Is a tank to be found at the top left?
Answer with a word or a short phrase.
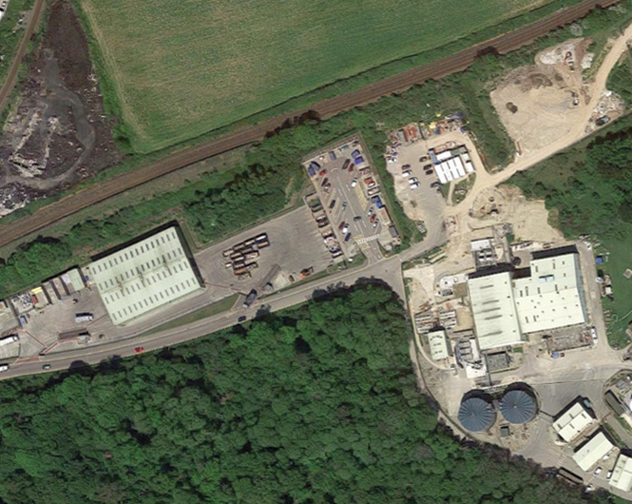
No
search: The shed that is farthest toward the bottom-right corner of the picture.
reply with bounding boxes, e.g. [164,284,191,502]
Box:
[609,454,632,492]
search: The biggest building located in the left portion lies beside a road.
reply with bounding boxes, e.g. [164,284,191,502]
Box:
[87,226,203,327]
